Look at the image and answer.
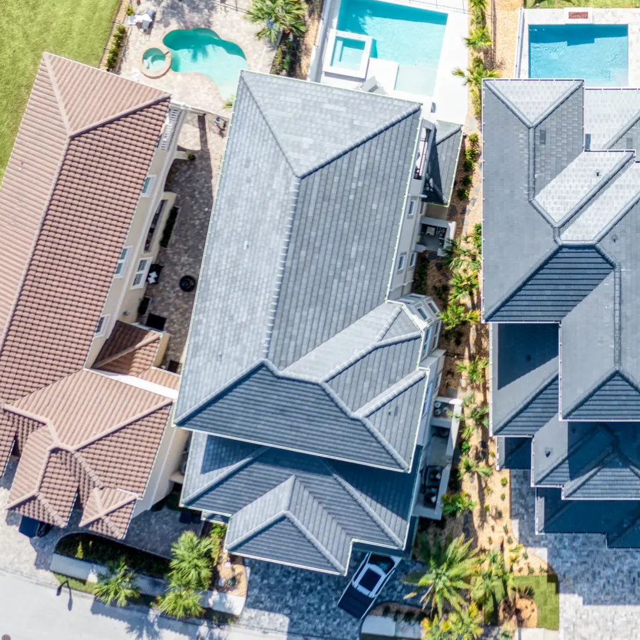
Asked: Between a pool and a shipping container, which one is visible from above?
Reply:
pool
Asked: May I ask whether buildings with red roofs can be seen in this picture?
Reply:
No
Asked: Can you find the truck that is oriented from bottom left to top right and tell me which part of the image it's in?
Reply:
bottom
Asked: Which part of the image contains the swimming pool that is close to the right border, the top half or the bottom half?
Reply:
top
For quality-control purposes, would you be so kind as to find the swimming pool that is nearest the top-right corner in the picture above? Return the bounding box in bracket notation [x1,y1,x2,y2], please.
[524,19,633,87]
